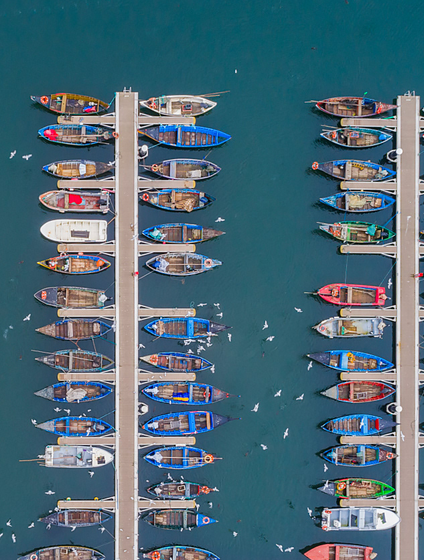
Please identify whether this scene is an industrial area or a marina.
marina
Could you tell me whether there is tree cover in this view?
No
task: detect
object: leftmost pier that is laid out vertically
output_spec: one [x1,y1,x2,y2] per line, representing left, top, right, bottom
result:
[57,86,195,560]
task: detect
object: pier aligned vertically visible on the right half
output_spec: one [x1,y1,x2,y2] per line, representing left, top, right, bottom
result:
[338,89,424,560]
